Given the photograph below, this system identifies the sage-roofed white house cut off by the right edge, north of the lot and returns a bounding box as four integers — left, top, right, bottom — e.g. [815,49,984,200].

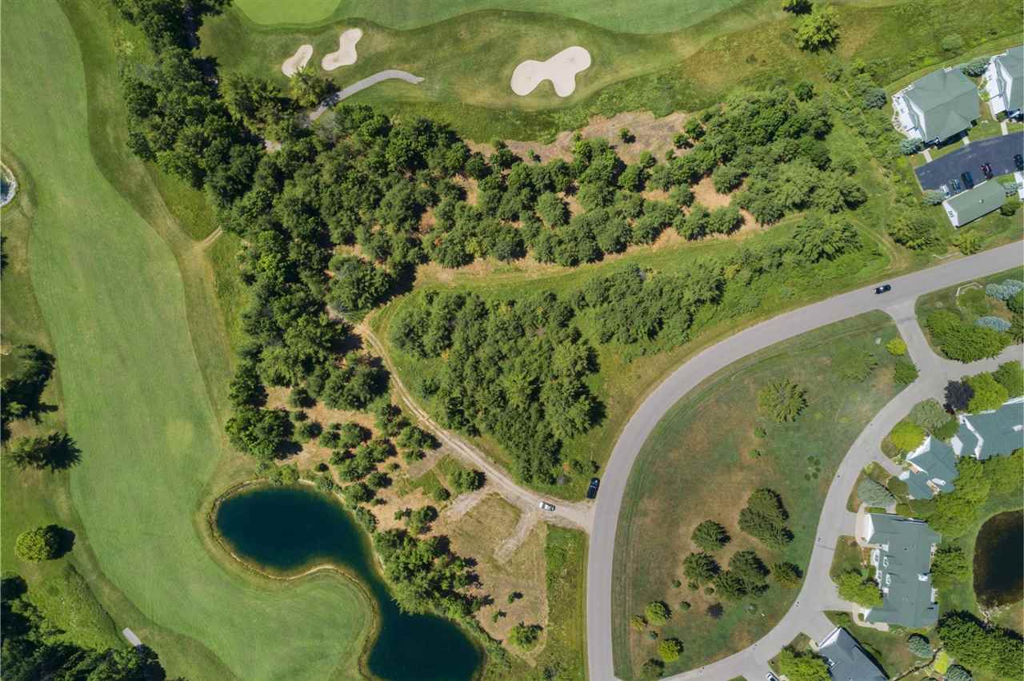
[980,42,1024,112]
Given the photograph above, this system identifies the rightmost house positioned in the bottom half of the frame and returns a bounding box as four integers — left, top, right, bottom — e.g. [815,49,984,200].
[952,392,1024,461]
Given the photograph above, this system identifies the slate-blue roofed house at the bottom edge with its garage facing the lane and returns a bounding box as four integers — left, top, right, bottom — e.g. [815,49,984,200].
[816,624,890,681]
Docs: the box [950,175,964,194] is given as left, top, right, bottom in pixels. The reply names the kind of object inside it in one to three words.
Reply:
car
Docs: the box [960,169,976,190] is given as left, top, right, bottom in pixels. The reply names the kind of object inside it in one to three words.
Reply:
vehicle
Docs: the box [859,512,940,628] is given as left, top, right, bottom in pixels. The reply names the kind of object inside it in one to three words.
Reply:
house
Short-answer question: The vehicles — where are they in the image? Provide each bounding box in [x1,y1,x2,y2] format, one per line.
[873,284,891,294]
[939,181,953,199]
[960,169,976,190]
[980,161,994,180]
[1011,152,1024,171]
[539,500,555,511]
[586,476,600,500]
[950,175,964,194]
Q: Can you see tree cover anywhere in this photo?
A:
Yes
